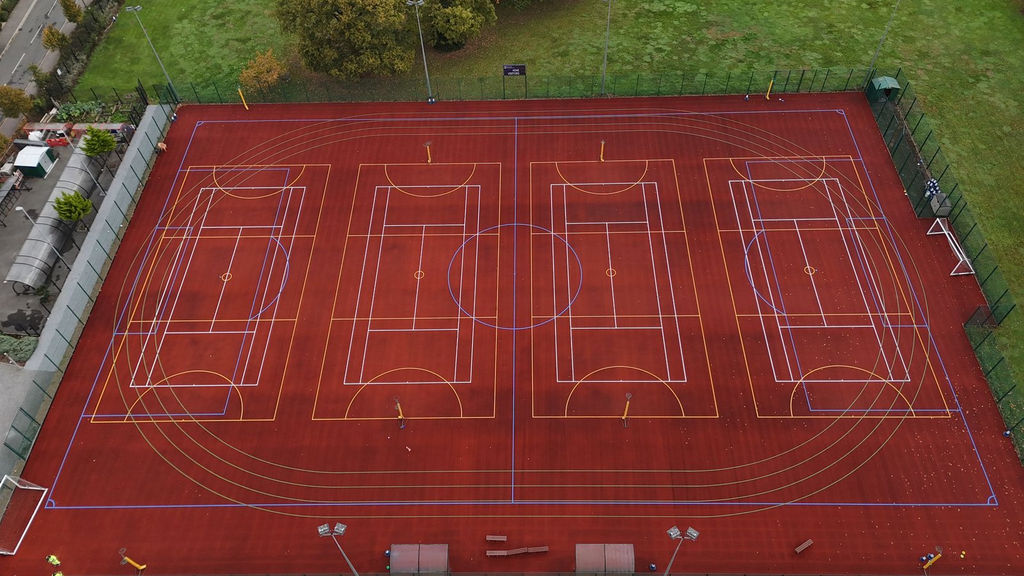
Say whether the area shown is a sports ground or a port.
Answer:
sports ground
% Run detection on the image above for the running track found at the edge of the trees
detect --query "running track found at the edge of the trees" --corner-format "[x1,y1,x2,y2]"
[113,109,930,518]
